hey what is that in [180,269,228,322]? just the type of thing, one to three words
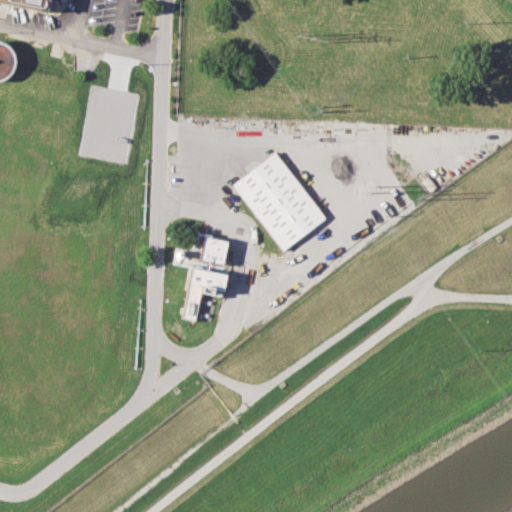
building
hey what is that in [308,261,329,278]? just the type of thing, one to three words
vehicle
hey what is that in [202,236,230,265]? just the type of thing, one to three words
building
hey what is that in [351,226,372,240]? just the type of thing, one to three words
vehicle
